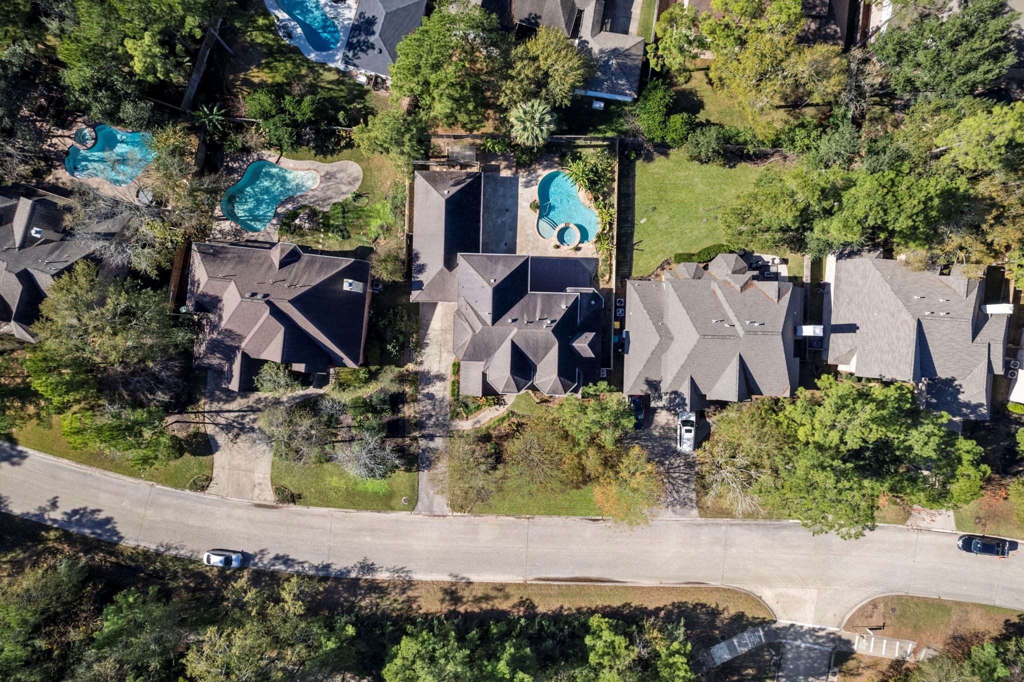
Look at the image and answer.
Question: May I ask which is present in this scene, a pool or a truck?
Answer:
pool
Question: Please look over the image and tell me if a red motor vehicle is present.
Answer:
No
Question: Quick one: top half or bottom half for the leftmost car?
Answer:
bottom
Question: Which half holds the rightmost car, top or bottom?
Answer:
bottom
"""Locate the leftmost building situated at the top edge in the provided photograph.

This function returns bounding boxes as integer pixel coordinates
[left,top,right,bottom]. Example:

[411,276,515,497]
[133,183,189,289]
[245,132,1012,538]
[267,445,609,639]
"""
[341,0,428,82]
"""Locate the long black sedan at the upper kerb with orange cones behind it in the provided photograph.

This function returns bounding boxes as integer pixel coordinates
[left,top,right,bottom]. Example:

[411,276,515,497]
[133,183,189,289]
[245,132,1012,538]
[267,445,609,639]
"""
[956,533,1010,557]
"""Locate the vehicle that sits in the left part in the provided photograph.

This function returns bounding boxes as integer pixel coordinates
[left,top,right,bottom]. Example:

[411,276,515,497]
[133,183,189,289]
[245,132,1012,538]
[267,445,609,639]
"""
[202,548,244,569]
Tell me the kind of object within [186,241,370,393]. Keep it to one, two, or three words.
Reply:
house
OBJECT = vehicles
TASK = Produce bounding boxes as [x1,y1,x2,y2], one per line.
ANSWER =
[677,411,698,453]
[956,533,1010,557]
[202,548,244,569]
[626,396,646,433]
